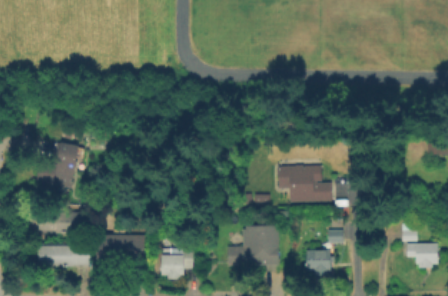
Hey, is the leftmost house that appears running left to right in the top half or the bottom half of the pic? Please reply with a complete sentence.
The leftmost house that appears running left to right is in the bottom half of the image.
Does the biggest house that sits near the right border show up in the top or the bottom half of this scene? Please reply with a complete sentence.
The biggest house that sits near the right border sits in the bottom half of the picture.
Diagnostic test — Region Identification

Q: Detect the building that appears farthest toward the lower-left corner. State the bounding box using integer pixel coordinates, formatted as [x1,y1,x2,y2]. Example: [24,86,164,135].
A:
[38,246,90,266]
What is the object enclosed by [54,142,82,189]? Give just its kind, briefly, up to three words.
house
